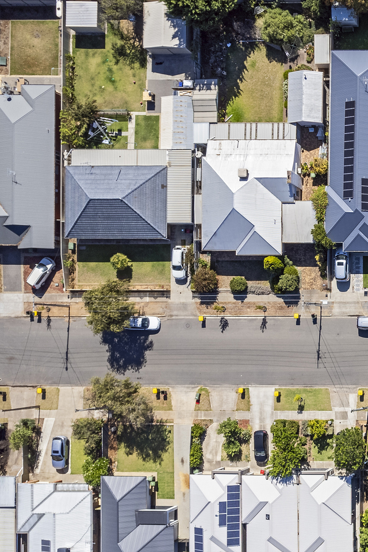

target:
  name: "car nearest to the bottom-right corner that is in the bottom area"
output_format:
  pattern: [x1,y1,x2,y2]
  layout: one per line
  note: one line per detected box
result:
[252,430,269,466]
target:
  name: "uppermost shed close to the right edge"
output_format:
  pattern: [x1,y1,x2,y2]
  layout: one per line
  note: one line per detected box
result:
[331,7,360,29]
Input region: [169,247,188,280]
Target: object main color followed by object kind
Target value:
white car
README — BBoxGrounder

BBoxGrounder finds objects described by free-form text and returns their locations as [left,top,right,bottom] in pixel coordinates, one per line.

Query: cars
[123,315,162,331]
[50,435,70,469]
[169,247,188,280]
[332,248,350,281]
[25,256,57,291]
[252,430,269,466]
[357,316,368,330]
